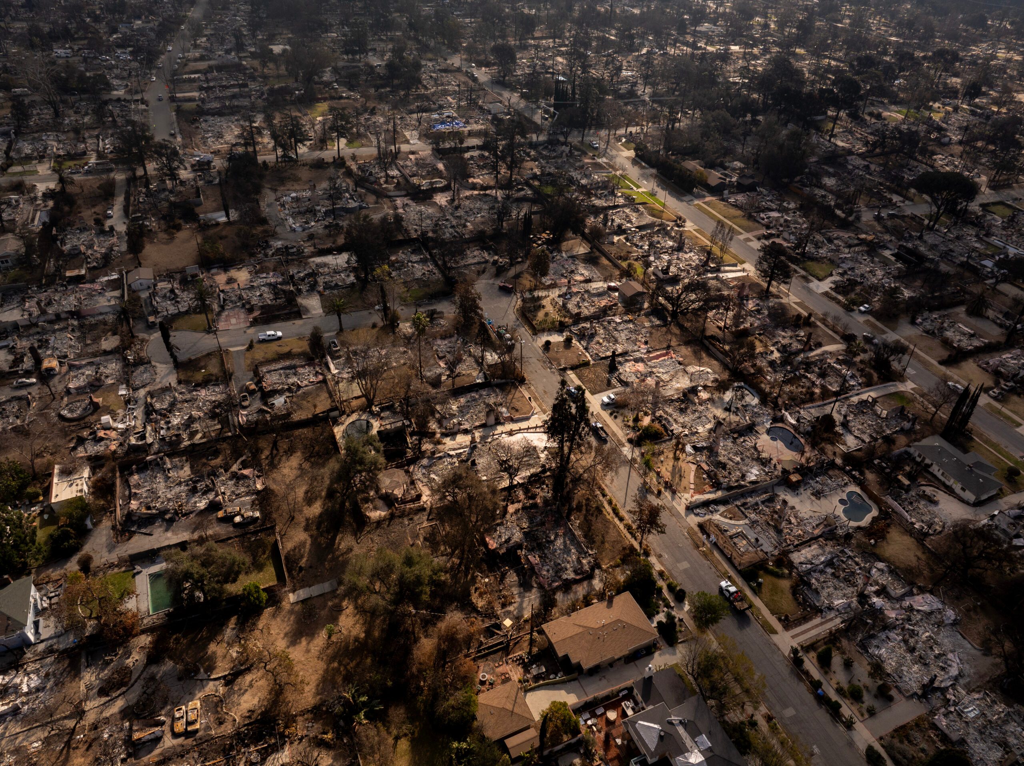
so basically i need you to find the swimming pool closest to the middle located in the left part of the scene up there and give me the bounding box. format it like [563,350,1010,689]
[345,419,373,442]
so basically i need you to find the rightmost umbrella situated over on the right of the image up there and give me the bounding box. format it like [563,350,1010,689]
[782,452,803,466]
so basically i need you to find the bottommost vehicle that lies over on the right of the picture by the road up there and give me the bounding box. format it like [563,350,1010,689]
[714,576,760,614]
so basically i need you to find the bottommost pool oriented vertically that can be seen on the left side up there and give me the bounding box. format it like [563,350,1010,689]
[147,560,173,616]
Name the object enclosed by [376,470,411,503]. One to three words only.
gazebo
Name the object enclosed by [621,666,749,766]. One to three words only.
house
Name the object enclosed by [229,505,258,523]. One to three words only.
car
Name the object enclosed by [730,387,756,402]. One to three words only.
swimming pool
